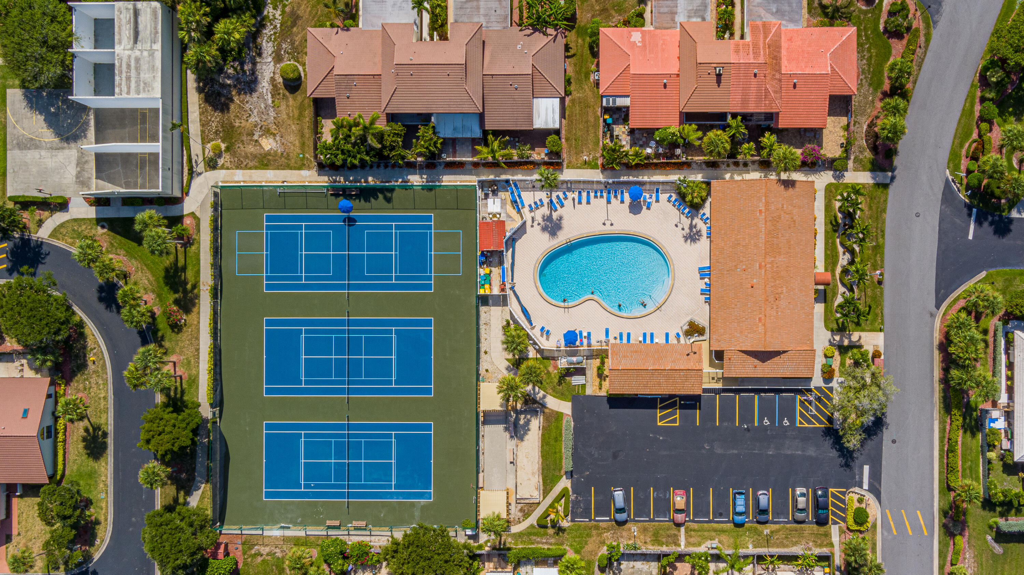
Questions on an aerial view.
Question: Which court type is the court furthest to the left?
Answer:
basketball court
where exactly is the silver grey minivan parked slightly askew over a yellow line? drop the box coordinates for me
[612,488,629,524]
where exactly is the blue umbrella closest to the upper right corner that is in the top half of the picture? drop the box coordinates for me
[628,186,643,201]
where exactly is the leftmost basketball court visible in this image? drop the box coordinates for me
[6,89,94,196]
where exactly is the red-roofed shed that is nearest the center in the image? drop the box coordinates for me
[479,220,505,250]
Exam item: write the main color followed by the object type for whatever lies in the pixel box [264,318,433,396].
blue tennis court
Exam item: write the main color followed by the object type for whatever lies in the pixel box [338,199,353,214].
blue umbrella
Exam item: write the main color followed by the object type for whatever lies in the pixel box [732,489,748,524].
blue vehicle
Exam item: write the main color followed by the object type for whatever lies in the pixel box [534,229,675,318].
blue swimming pool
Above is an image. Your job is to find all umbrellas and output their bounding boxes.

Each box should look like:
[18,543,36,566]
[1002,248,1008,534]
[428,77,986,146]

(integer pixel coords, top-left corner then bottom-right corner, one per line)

[628,186,643,201]
[338,199,353,214]
[563,330,578,345]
